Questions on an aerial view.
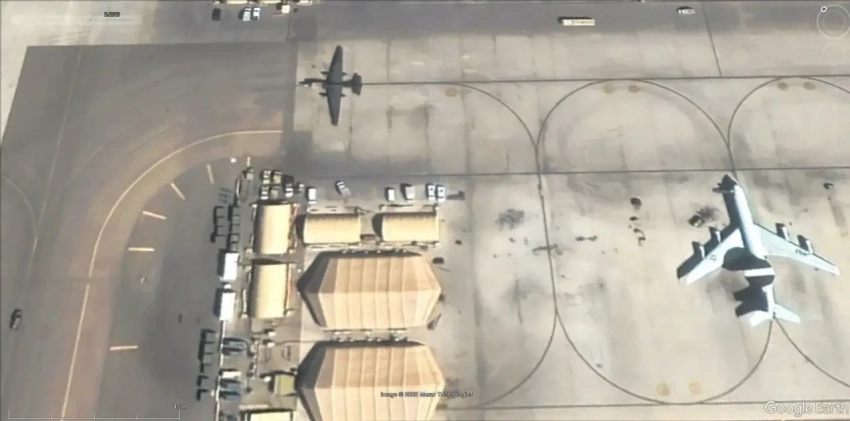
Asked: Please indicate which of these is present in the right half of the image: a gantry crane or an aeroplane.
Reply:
aeroplane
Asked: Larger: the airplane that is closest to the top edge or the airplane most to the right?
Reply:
the airplane most to the right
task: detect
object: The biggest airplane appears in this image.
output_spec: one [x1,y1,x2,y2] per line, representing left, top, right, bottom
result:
[678,176,834,326]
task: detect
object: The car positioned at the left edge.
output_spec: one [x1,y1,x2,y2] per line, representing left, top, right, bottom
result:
[8,311,21,329]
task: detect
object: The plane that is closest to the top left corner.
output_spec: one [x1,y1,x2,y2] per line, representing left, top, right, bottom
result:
[301,47,362,125]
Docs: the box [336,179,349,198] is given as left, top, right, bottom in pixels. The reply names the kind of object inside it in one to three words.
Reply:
vehicle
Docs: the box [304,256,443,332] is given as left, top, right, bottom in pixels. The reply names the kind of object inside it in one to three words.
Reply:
hangar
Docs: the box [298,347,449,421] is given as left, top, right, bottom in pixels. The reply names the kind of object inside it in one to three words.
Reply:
hangar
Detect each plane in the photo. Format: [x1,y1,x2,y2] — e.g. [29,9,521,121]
[301,47,362,125]
[678,176,834,326]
